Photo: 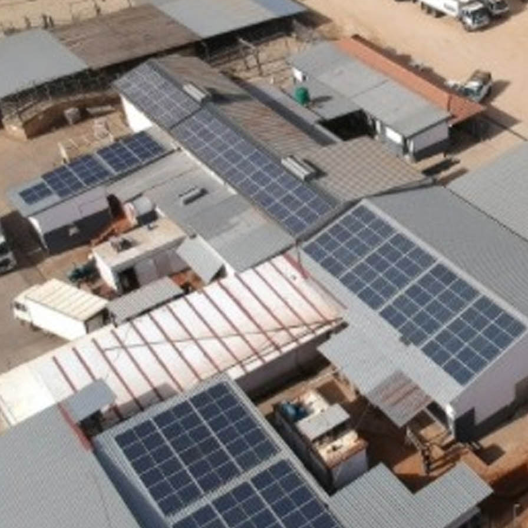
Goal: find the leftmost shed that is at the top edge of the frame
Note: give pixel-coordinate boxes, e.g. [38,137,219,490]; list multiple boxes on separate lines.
[0,24,91,113]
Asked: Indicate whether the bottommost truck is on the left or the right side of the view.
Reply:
left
